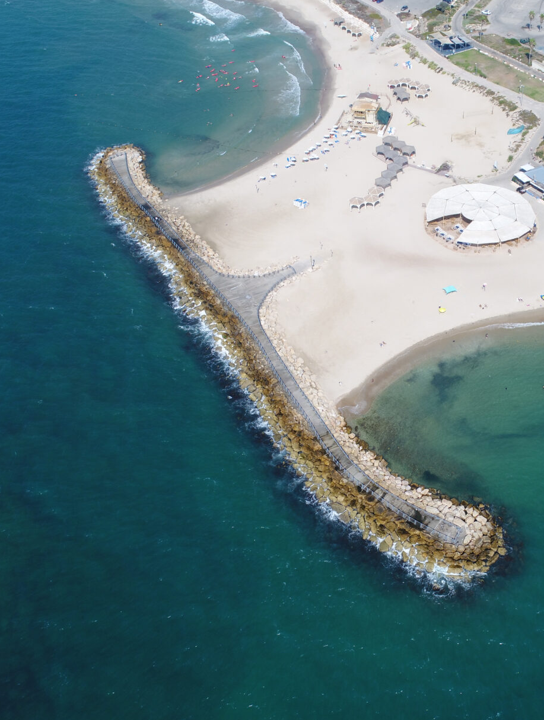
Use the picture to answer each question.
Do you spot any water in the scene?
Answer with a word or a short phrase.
Yes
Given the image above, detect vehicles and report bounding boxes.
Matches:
[400,3,408,9]
[481,8,492,13]
[513,184,527,193]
